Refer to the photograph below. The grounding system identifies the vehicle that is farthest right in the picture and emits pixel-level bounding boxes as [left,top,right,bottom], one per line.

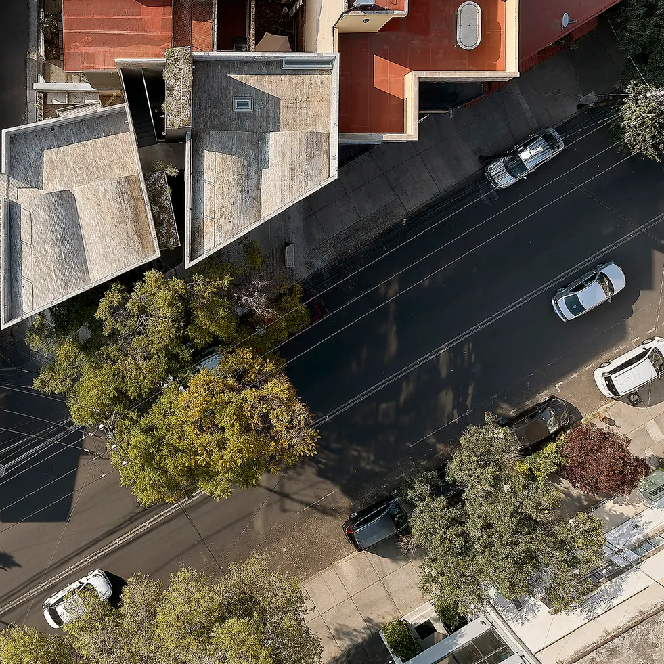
[591,337,664,400]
